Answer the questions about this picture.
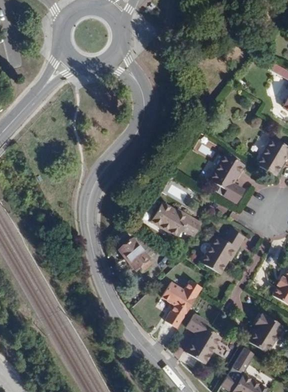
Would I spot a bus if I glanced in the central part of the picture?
No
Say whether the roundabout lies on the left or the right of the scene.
left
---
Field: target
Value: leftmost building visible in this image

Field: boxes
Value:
[118,238,150,268]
